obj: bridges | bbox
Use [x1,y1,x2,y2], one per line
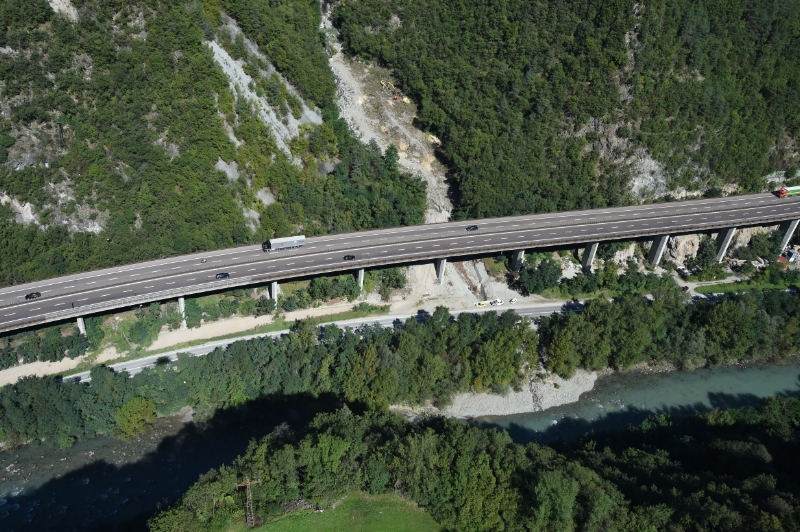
[0,188,800,341]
